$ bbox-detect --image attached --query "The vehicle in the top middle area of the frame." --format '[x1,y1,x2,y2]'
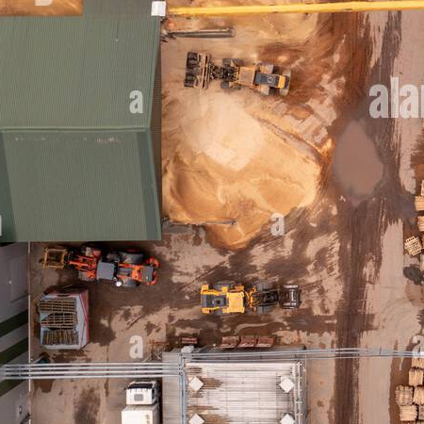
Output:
[190,50,292,95]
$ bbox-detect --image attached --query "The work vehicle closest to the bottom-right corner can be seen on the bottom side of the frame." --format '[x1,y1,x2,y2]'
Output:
[199,280,299,317]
